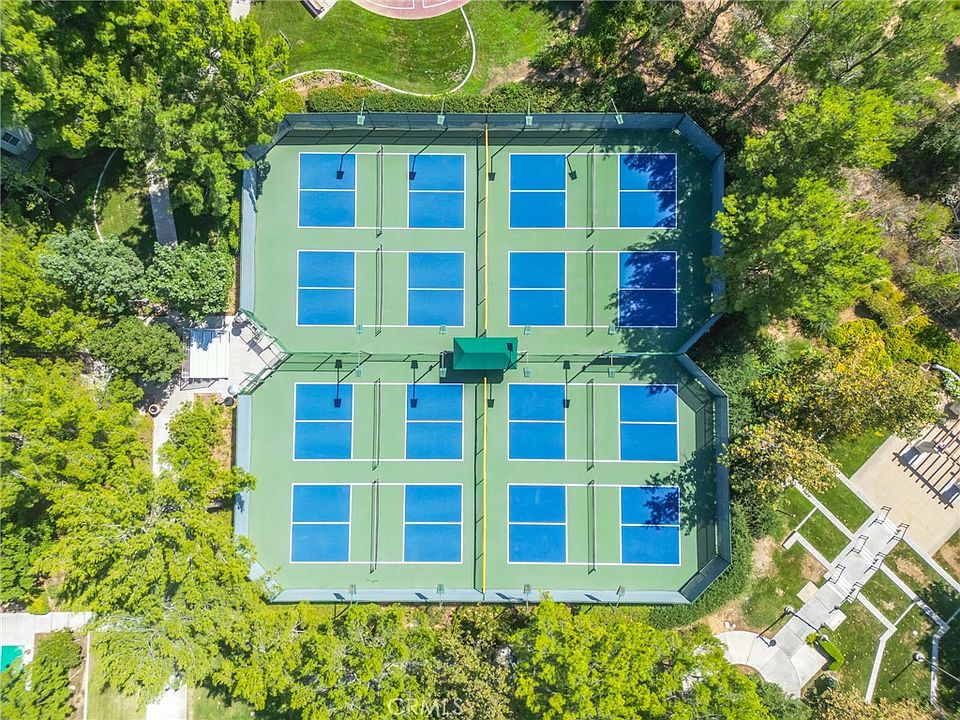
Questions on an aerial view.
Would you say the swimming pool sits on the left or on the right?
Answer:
left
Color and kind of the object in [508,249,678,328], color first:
blue sports court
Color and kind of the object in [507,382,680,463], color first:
blue sports court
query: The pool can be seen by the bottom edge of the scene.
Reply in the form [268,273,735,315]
[0,641,29,700]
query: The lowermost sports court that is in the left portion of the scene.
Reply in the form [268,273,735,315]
[290,483,463,564]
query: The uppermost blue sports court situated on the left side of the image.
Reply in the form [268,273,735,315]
[297,152,466,229]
